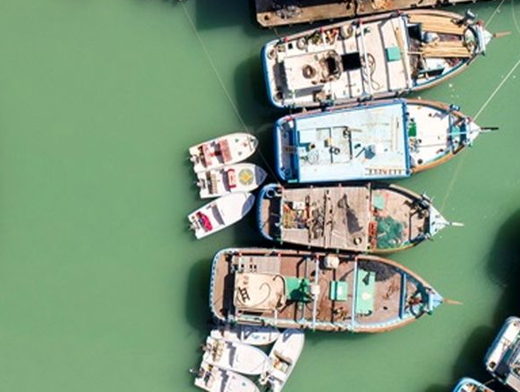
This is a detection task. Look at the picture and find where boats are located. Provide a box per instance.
[210,247,465,334]
[187,135,258,172]
[194,362,261,392]
[274,96,505,189]
[206,321,280,347]
[485,320,520,389]
[194,164,268,198]
[445,374,494,392]
[187,190,255,239]
[259,9,518,110]
[256,178,469,253]
[261,329,300,392]
[200,336,268,370]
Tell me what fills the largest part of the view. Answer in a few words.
water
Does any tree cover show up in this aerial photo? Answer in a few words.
No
